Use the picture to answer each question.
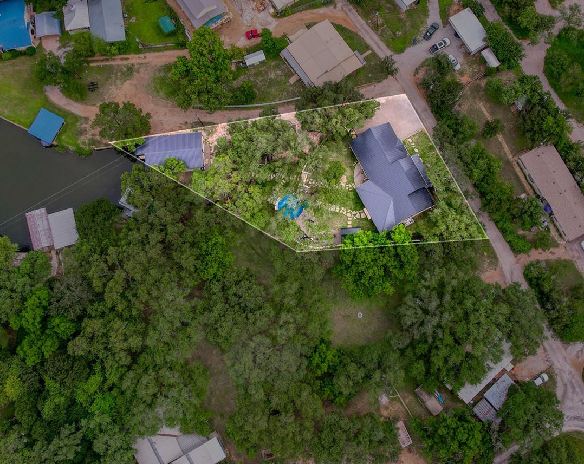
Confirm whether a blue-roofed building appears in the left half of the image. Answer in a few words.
Yes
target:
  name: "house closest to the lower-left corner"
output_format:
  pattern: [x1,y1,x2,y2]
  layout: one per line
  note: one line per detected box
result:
[131,424,226,464]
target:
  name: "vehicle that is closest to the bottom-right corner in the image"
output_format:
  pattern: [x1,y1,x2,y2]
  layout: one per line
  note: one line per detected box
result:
[529,370,551,389]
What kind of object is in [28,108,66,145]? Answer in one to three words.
building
